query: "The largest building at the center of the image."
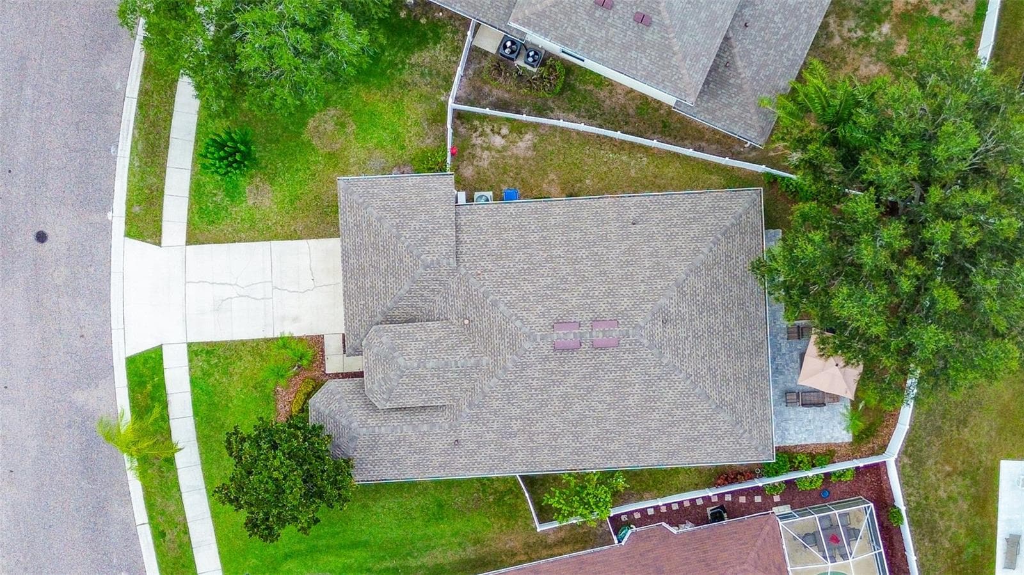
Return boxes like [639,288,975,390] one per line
[307,173,775,483]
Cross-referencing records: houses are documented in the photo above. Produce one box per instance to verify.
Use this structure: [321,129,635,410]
[484,510,791,575]
[428,0,827,153]
[307,173,775,483]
